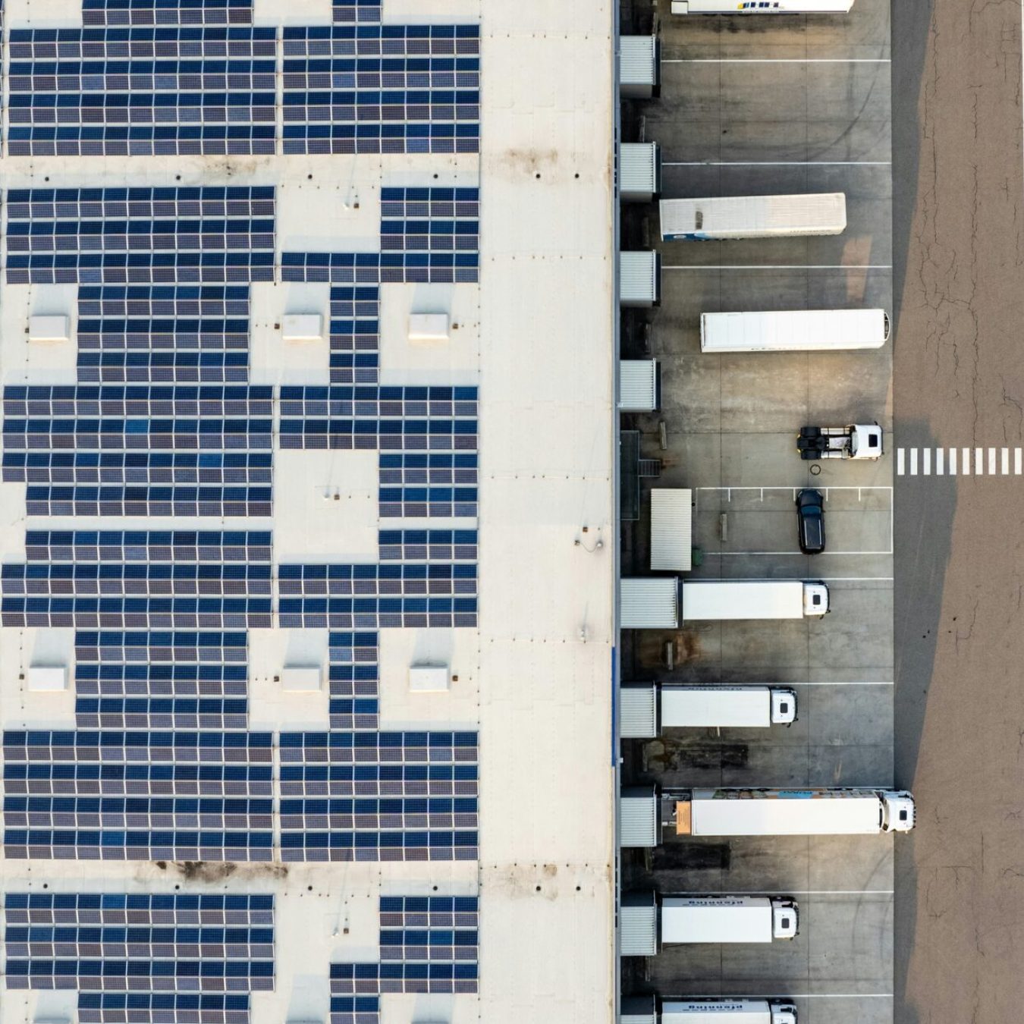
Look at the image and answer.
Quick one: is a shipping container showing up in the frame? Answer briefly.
Yes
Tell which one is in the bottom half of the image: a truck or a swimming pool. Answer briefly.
truck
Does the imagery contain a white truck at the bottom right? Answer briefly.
Yes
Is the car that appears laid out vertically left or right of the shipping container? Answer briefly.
right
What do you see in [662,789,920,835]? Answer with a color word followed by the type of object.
white truck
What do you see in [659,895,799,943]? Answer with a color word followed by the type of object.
white truck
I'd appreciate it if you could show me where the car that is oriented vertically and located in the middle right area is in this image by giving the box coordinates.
[795,489,826,554]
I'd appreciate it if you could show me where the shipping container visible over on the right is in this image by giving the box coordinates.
[648,489,691,570]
